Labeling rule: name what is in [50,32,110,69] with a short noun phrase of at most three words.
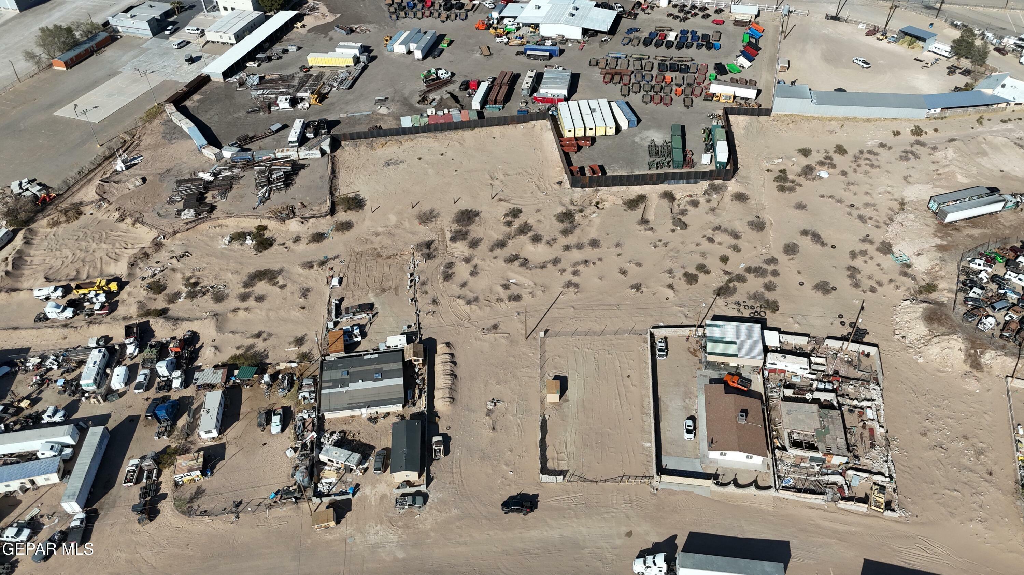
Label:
building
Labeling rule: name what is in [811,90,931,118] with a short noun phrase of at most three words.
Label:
barn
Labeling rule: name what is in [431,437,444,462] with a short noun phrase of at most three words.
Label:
vehicle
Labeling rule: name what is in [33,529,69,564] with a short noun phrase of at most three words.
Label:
truck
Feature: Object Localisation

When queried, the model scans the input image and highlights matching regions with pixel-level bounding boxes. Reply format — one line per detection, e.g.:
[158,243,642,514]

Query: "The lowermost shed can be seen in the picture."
[312,507,336,533]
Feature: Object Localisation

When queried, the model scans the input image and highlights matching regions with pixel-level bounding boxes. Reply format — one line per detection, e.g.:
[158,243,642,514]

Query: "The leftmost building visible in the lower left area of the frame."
[0,456,69,493]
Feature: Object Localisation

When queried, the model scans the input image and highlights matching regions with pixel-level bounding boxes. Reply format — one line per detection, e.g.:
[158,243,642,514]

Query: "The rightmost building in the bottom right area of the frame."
[778,402,848,466]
